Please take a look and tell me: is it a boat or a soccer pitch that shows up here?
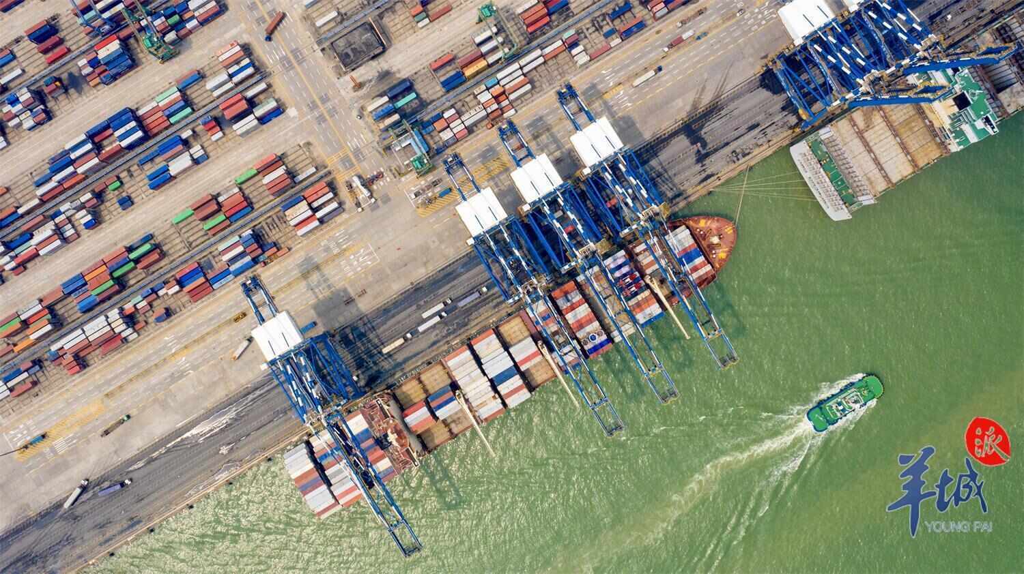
boat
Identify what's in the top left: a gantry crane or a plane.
gantry crane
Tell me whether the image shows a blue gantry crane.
Yes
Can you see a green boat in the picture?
Yes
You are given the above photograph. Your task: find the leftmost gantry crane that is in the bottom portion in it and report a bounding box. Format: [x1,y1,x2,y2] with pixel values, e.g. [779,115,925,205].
[237,279,423,559]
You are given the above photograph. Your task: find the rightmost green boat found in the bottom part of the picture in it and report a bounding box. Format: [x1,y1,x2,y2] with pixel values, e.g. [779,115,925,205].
[806,379,883,431]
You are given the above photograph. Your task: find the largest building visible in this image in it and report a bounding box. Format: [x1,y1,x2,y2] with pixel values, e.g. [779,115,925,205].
[332,18,390,70]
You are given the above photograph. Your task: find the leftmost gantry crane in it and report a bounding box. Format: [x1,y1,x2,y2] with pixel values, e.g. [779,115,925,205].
[65,0,117,39]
